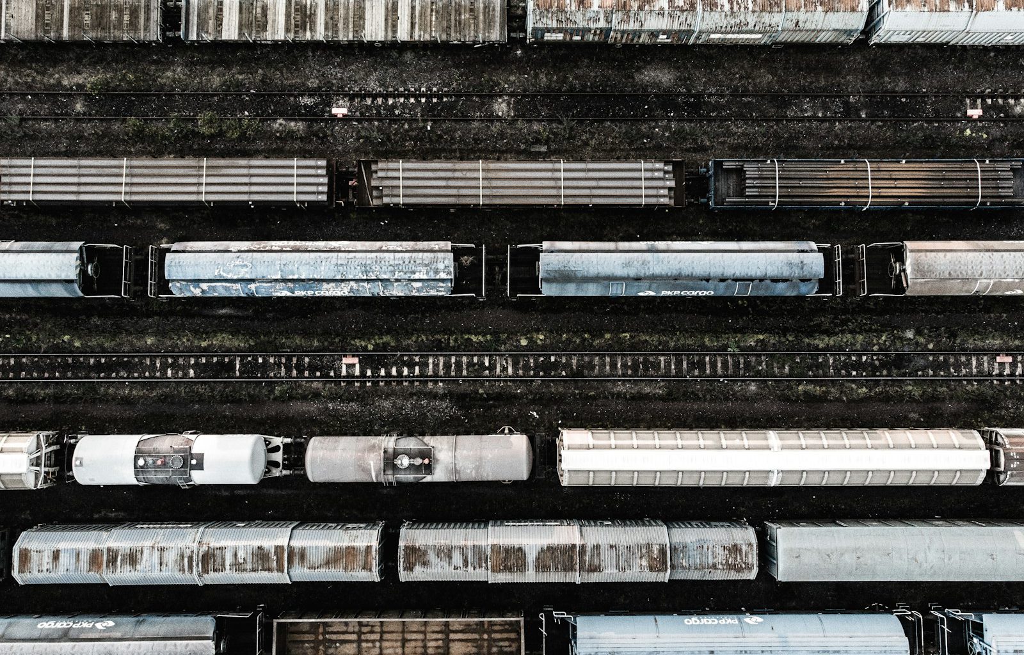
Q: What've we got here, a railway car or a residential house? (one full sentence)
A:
I can see a railway car in this picture.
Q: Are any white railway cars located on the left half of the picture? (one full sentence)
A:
Yes, the scene does show a white railway car on the left half of the picture.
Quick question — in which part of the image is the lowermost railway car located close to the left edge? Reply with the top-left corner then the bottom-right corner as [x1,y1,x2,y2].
[0,603,279,655]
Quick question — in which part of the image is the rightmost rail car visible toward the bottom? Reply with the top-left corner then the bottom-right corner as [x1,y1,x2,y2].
[978,425,1024,488]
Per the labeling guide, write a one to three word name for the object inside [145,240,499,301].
rail car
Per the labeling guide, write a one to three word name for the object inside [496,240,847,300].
rail car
